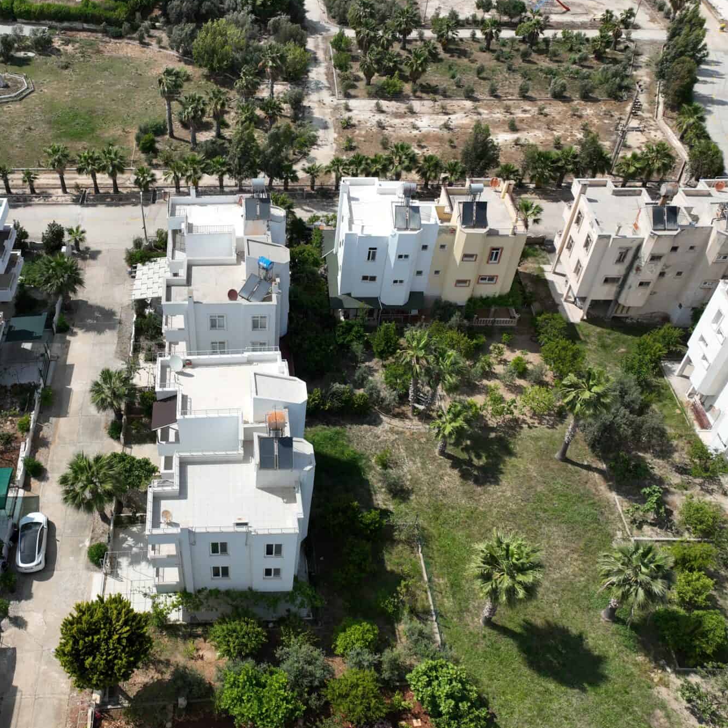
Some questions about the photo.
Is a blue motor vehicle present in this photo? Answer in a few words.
No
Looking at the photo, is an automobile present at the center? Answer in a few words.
No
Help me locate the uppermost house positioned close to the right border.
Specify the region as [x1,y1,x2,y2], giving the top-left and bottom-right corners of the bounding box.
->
[533,179,728,332]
